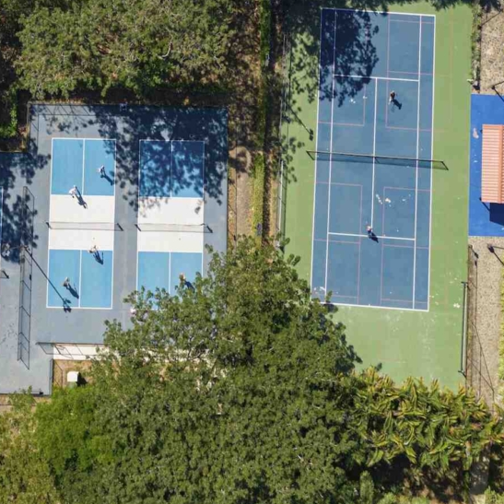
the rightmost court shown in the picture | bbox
[275,0,477,409]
